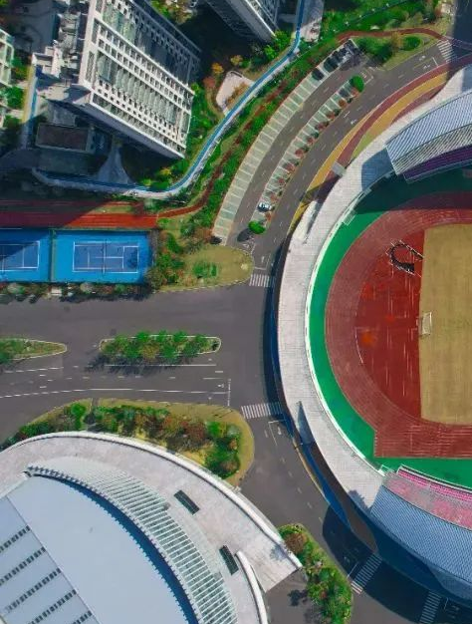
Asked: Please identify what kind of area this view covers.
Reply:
sports ground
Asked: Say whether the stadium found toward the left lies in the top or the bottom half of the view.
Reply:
bottom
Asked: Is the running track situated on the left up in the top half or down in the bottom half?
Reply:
top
